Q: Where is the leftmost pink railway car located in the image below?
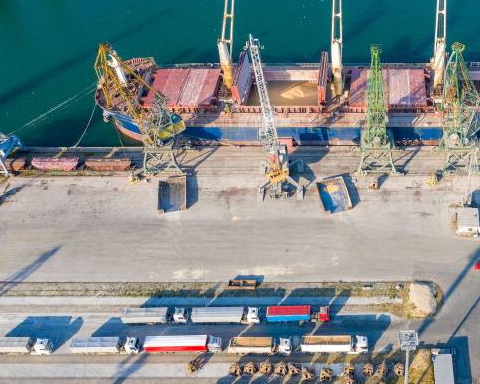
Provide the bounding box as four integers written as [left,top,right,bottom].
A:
[26,156,81,170]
